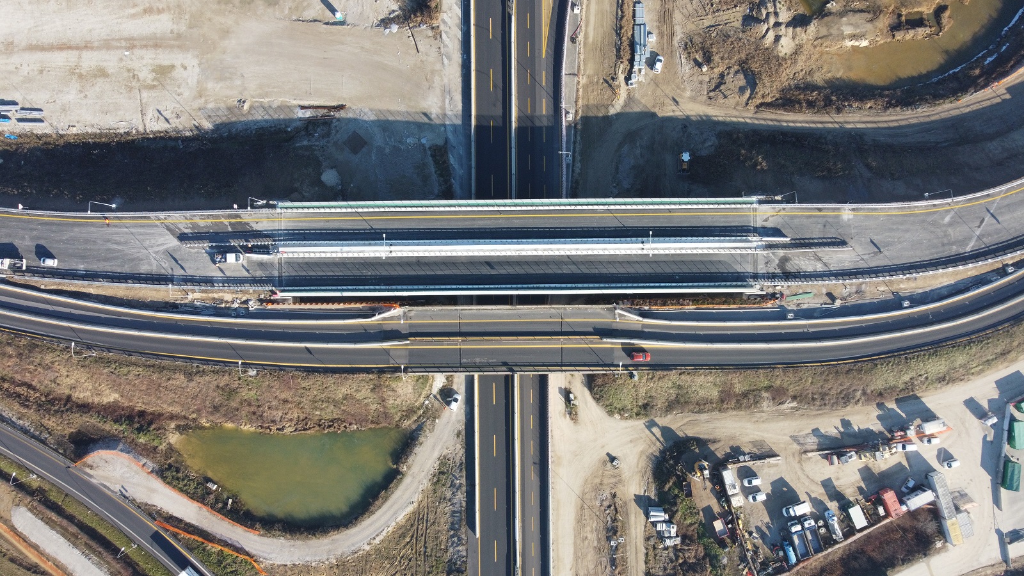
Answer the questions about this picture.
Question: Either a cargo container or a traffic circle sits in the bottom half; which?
cargo container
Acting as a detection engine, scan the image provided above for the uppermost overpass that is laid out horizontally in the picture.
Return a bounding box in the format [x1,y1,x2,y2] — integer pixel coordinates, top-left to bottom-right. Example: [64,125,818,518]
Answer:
[272,196,762,295]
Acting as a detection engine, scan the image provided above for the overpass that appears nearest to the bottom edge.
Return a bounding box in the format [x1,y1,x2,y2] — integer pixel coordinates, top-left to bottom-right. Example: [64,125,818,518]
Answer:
[404,305,618,374]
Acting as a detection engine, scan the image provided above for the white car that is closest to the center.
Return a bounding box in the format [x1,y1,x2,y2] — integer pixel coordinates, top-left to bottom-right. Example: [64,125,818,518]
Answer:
[447,393,460,412]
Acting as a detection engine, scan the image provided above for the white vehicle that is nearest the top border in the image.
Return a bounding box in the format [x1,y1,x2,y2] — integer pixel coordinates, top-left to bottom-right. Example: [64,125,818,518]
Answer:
[651,55,664,75]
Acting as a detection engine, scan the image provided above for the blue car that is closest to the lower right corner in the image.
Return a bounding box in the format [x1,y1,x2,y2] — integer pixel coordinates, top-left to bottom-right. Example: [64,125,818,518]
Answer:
[900,475,915,494]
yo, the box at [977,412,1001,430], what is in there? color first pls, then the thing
white vehicle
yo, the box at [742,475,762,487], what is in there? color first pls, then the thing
white vehicle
